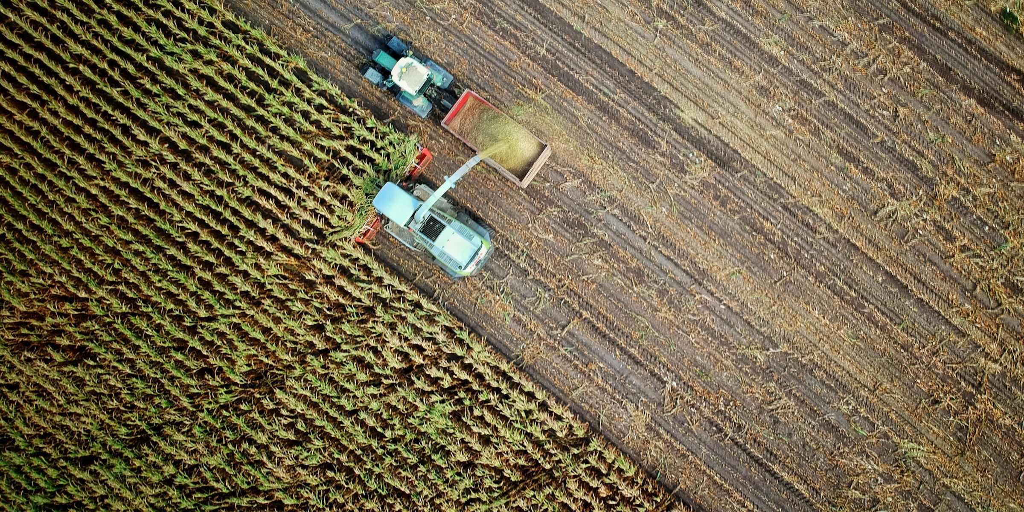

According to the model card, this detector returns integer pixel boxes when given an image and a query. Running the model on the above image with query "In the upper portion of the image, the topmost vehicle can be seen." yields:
[366,39,456,123]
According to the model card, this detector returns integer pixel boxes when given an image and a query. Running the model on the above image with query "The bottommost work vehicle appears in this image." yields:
[352,146,499,284]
